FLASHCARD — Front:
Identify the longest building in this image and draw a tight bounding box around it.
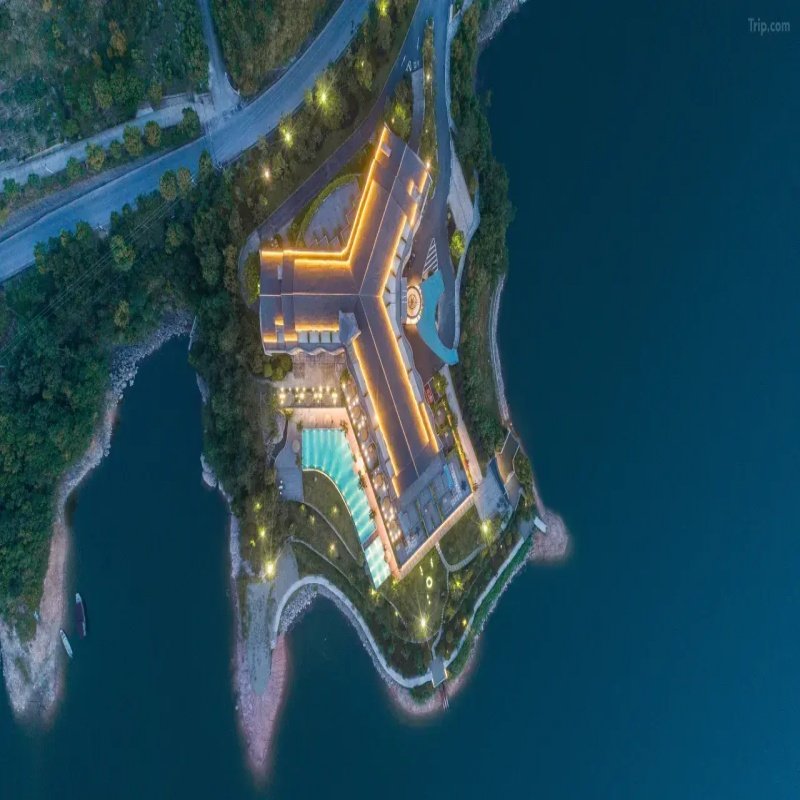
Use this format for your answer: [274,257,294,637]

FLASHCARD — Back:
[258,127,475,571]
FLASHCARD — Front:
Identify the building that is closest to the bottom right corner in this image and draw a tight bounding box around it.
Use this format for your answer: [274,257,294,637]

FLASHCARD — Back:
[431,657,447,688]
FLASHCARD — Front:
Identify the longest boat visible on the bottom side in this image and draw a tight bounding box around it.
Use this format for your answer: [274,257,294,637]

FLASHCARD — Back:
[74,592,87,641]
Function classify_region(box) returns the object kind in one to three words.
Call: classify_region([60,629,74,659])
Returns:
boat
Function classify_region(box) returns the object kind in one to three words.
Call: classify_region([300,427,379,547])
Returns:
swimming pool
